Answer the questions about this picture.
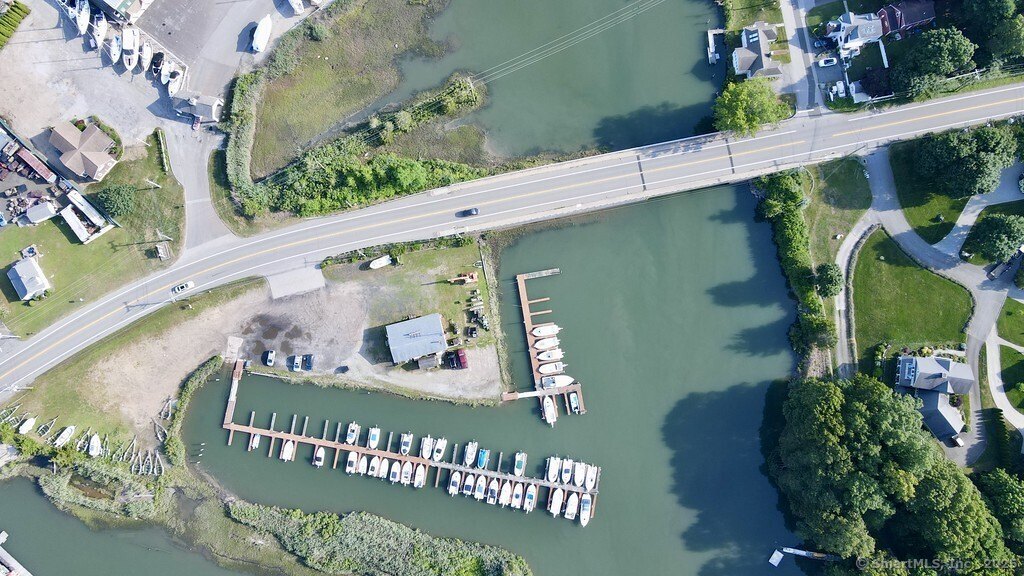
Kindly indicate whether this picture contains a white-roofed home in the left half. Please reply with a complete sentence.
Yes, a white-roofed home shows up in the left half.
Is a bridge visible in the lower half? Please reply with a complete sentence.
No, looking in the lower half, there is no bridge.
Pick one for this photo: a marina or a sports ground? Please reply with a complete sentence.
The picture captures a marina.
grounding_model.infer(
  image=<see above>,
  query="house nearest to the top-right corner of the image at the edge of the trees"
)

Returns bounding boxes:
[874,0,936,42]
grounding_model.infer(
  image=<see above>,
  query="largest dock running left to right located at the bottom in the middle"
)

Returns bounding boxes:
[220,357,602,520]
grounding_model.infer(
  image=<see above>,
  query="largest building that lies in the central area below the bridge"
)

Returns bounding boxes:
[384,311,450,362]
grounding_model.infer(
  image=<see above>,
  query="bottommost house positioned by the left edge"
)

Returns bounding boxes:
[10,256,56,300]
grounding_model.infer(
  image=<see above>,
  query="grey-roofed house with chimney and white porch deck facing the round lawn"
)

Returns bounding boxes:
[892,352,974,441]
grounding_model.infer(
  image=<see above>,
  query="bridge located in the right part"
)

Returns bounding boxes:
[426,119,804,238]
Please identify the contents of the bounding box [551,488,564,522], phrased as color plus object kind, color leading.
white boat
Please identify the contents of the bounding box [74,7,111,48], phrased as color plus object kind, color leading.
white boat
